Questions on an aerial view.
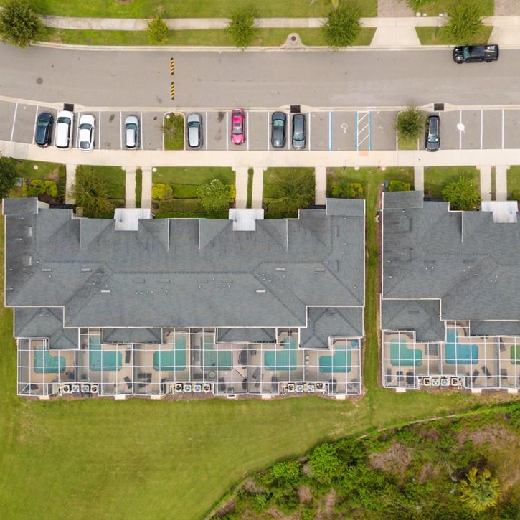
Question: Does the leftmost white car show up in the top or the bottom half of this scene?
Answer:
top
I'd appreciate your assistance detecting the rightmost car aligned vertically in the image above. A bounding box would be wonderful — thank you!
[426,113,444,151]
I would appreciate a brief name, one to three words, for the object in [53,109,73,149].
car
